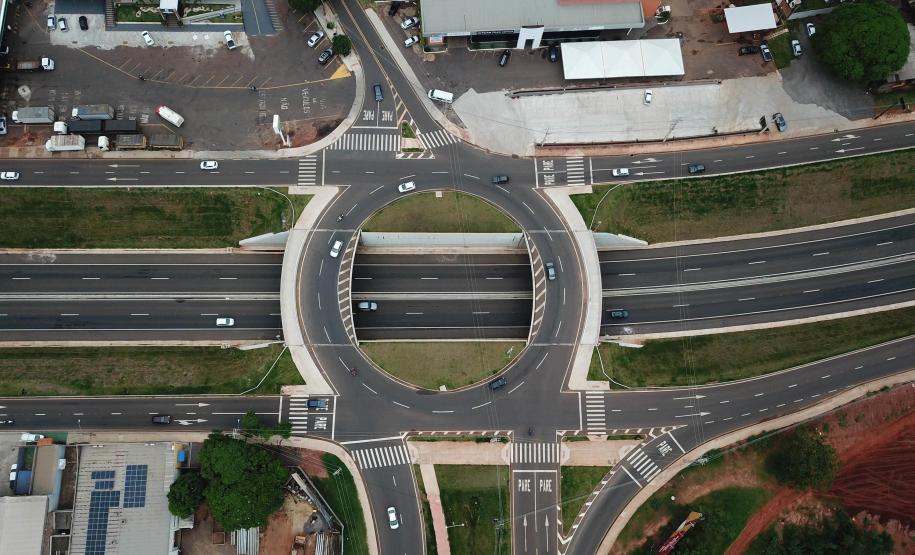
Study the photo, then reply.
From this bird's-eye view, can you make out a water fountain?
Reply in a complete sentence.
No, no water fountain can be seen from above.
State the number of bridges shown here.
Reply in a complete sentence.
There are 2 bridges in the image.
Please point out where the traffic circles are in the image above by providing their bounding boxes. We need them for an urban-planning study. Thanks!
[285,110,600,450]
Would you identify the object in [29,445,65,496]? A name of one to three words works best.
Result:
building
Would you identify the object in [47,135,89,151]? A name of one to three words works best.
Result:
vehicle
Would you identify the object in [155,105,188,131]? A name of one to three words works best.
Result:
truck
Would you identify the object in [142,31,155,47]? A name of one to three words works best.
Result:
vehicle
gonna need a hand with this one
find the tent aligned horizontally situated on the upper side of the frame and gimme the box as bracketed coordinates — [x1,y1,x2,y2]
[559,38,684,86]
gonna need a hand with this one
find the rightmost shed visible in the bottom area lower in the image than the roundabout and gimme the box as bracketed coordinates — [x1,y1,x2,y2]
[292,473,334,526]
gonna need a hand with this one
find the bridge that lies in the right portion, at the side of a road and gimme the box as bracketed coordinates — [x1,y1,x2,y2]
[525,227,603,349]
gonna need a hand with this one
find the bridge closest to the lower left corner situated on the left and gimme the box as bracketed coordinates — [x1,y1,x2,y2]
[280,225,361,349]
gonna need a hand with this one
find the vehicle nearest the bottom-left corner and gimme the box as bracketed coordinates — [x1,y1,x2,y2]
[7,463,21,490]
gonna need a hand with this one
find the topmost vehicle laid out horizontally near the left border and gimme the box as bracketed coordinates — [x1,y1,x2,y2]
[8,58,57,73]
